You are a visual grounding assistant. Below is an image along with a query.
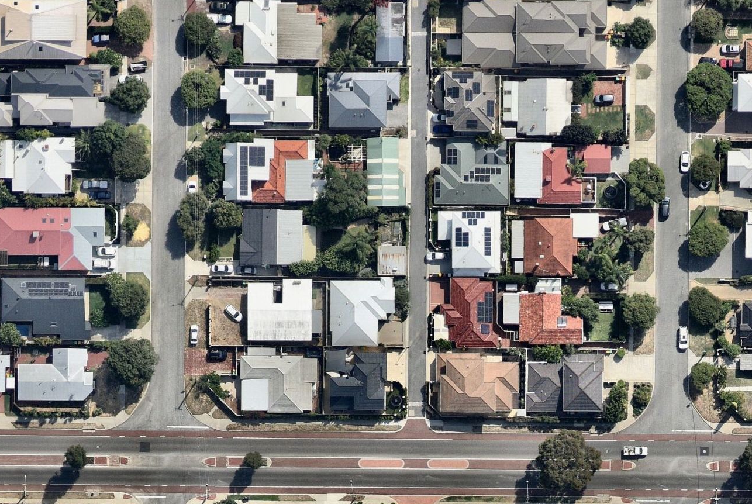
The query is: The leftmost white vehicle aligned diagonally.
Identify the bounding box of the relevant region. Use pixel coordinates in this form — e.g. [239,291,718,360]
[224,303,241,321]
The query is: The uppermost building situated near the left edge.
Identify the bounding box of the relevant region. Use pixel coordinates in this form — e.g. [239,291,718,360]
[0,0,88,59]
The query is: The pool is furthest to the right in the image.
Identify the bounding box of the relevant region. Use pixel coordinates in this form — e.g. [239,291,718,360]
[328,142,347,161]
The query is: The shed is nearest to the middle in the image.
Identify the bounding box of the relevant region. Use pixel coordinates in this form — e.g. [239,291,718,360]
[378,245,406,276]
